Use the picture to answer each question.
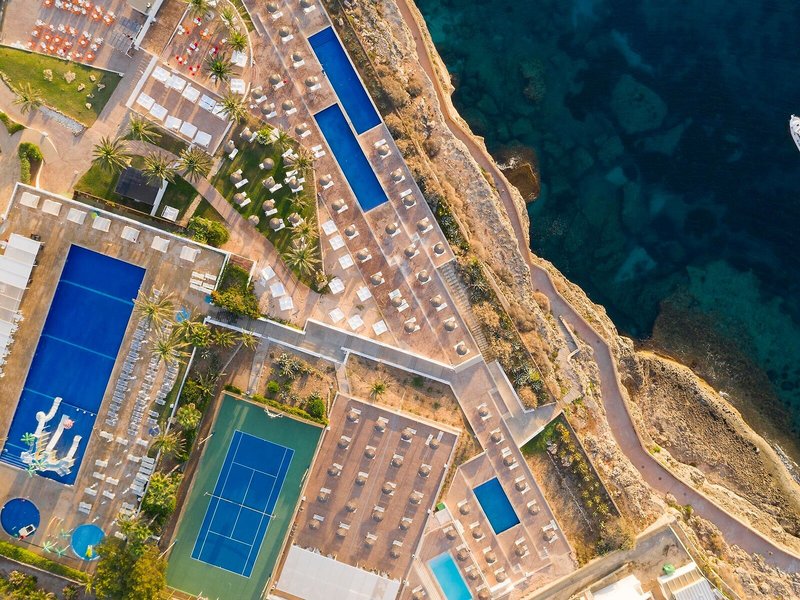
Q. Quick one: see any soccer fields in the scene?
No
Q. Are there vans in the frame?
No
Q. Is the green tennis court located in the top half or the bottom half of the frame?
bottom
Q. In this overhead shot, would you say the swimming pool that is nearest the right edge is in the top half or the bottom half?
bottom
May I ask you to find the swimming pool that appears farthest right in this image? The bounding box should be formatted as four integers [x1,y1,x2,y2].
[471,474,521,536]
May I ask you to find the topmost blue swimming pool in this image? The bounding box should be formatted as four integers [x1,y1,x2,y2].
[307,24,384,136]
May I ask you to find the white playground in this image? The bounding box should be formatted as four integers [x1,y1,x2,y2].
[22,397,81,477]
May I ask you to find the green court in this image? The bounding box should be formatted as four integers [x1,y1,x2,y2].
[167,393,326,600]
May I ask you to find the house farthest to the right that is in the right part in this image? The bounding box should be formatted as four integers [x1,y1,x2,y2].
[652,555,718,600]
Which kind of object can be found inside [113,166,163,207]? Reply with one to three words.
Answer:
building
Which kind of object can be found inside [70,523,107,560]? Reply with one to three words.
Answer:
swimming pool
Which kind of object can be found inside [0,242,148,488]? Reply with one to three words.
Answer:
swimming pool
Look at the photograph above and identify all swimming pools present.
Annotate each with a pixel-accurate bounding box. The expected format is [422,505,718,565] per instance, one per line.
[471,474,521,536]
[70,523,107,560]
[0,498,41,538]
[0,242,148,488]
[312,102,389,213]
[427,550,475,600]
[307,24,384,136]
